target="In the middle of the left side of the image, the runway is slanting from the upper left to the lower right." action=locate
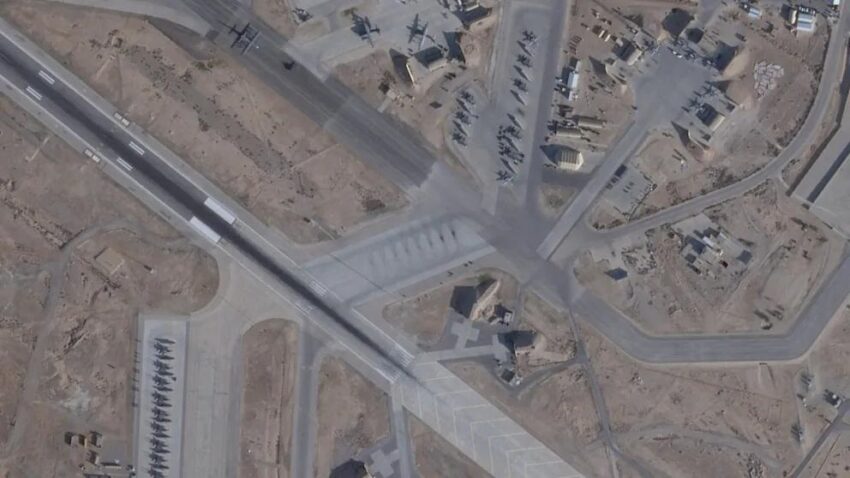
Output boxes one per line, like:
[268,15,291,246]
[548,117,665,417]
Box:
[0,30,413,382]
